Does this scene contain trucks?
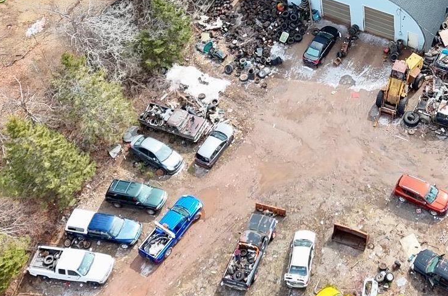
Yes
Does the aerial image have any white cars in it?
Yes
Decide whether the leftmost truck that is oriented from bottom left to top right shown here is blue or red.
blue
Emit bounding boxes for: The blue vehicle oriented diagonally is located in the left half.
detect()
[140,195,209,265]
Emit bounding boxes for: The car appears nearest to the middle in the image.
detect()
[192,122,239,172]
